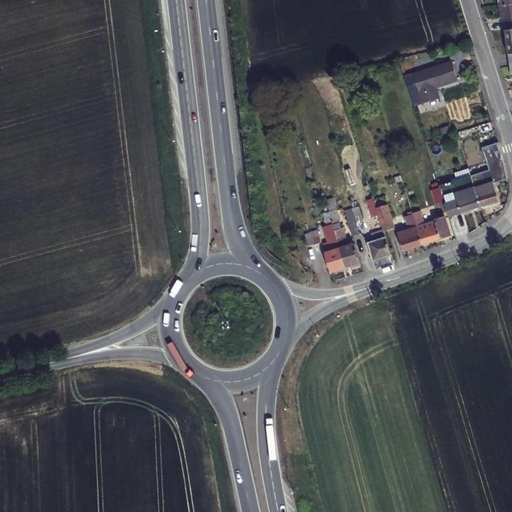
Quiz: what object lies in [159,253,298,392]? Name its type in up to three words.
roundabout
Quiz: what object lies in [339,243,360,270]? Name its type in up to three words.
house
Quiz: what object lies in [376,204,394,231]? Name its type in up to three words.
barn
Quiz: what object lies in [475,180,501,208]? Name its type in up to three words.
house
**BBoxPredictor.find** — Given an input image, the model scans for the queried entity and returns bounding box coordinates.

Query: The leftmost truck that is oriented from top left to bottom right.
[166,341,194,378]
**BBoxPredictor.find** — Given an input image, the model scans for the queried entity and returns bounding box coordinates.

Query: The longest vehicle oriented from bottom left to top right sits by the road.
[169,279,184,298]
